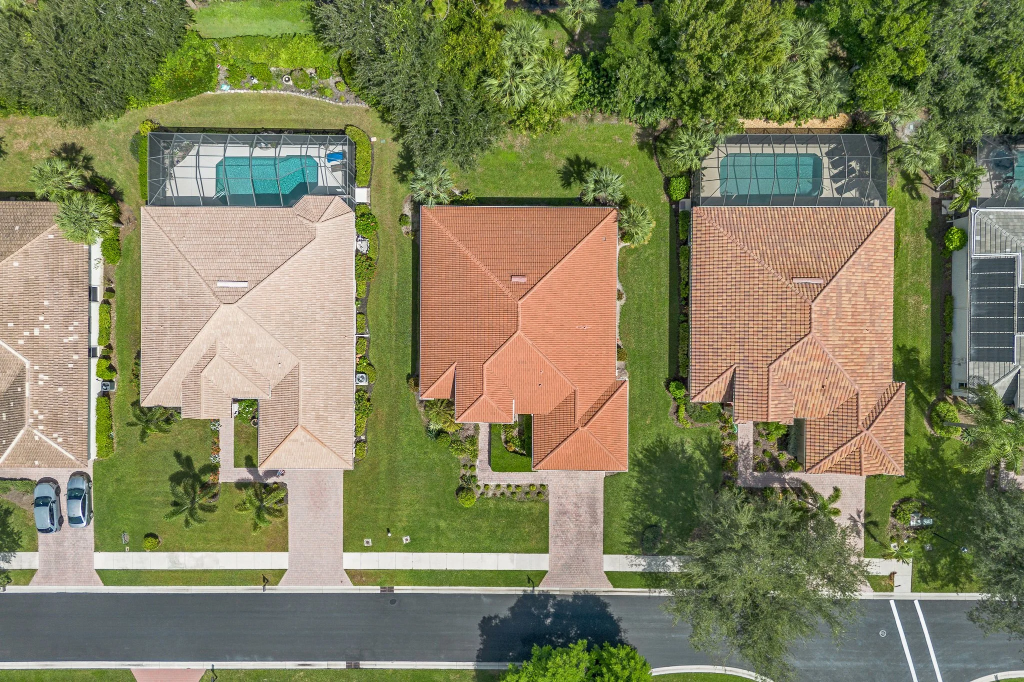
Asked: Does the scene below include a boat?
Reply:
No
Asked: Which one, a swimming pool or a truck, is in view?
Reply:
swimming pool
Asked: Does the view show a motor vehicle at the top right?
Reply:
No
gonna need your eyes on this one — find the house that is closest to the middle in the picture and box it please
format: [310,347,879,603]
[418,205,630,473]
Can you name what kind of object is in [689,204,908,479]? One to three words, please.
house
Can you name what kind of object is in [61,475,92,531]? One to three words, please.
car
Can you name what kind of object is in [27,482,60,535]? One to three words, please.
car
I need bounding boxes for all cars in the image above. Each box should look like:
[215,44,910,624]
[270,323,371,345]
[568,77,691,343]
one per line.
[27,482,60,535]
[61,475,92,531]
